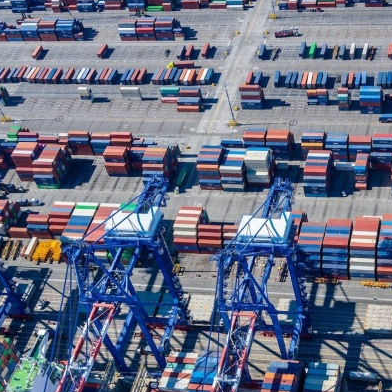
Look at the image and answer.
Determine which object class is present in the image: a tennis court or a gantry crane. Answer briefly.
gantry crane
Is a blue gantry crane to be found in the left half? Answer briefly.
Yes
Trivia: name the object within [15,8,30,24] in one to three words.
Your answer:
work vehicle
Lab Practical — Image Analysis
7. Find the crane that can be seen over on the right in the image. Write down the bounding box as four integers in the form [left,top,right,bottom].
[200,181,312,392]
